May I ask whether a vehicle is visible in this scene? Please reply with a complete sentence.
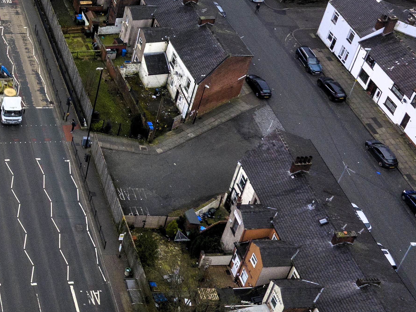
Yes, there is a vehicle in the image.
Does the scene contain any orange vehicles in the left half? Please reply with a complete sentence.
No, no orange vehicle can be made out in the left half.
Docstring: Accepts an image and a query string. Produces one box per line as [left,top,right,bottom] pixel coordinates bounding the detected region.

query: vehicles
[374,239,406,274]
[213,0,231,20]
[399,190,416,215]
[248,74,276,103]
[316,77,350,106]
[363,143,405,176]
[294,47,324,74]
[0,56,23,124]
[350,203,379,235]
